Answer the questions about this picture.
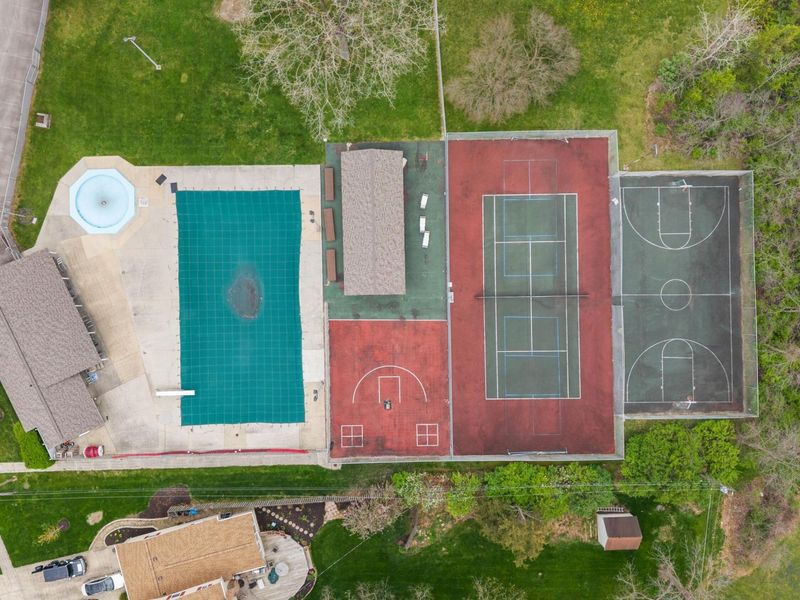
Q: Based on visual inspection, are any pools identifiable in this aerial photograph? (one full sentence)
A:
Yes, the picture does show a pool.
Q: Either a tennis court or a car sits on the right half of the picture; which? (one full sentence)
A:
The one visible on the right half of the picture is a tennis court.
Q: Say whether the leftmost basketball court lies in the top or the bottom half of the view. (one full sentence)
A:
The leftmost basketball court sits in the bottom half of the picture.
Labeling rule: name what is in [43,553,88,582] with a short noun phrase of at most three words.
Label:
car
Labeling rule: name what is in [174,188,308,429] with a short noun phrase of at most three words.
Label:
swimming pool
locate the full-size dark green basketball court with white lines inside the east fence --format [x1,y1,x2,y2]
[620,177,743,412]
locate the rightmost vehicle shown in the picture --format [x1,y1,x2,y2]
[81,567,123,594]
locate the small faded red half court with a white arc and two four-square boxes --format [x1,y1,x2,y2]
[329,320,452,462]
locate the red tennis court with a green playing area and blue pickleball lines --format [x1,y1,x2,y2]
[449,137,615,458]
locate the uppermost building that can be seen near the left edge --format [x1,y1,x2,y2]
[0,249,109,459]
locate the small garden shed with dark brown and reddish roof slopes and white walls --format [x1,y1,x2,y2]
[598,514,642,550]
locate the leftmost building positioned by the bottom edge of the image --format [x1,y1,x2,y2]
[113,505,266,600]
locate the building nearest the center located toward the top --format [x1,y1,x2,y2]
[341,148,405,297]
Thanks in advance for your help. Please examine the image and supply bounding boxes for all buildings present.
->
[598,514,642,550]
[113,505,266,600]
[341,148,405,297]
[0,249,109,459]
